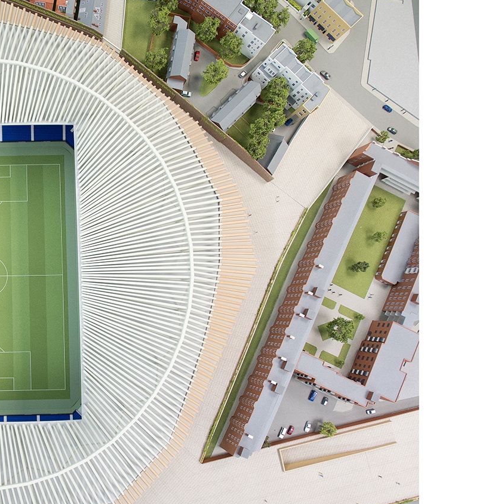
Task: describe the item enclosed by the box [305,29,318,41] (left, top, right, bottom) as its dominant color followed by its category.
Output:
green vehicle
